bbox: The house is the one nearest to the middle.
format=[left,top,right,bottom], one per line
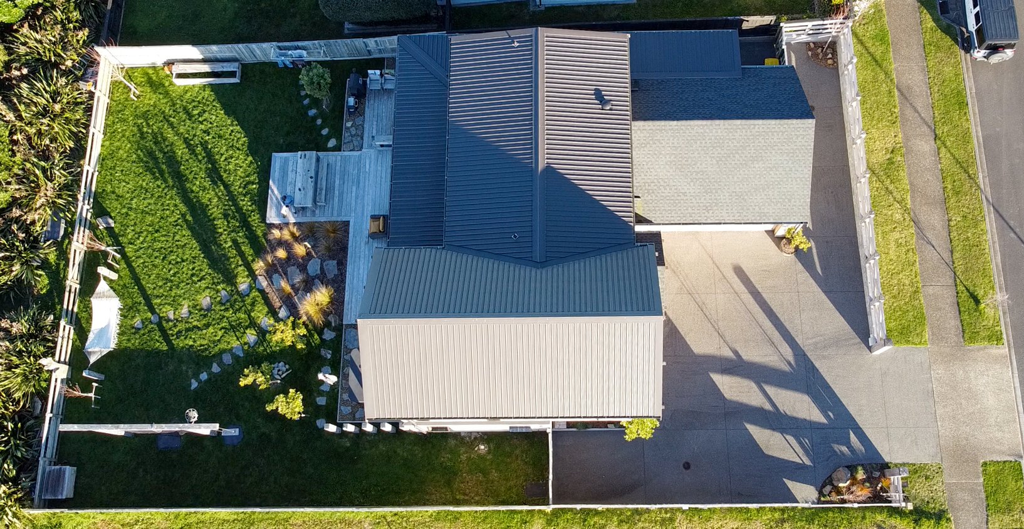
[358,28,666,429]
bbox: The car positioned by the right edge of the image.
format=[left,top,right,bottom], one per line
[953,0,1020,63]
